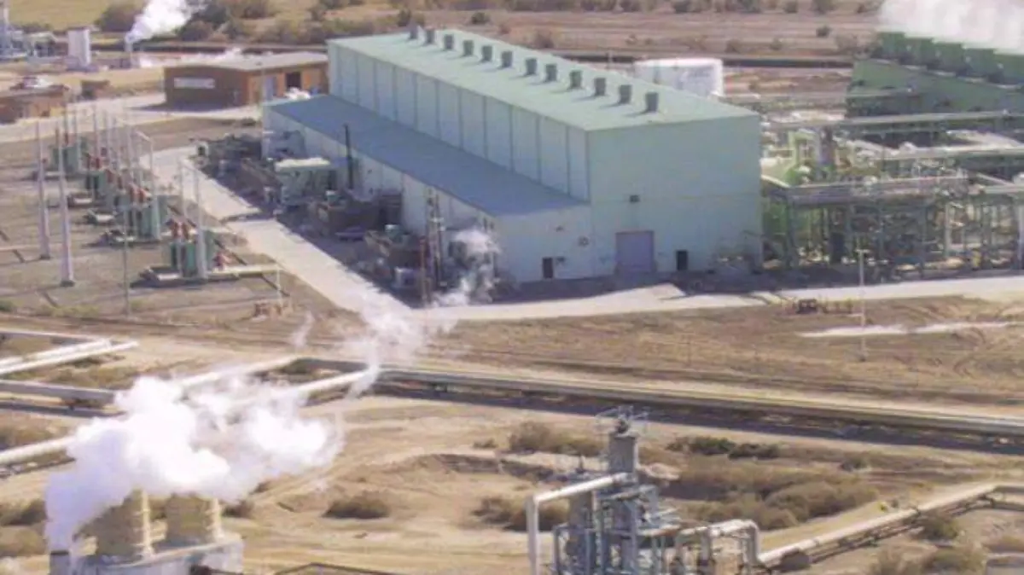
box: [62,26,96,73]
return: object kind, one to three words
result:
water tower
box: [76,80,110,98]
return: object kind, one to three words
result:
shed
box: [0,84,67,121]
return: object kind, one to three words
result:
building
